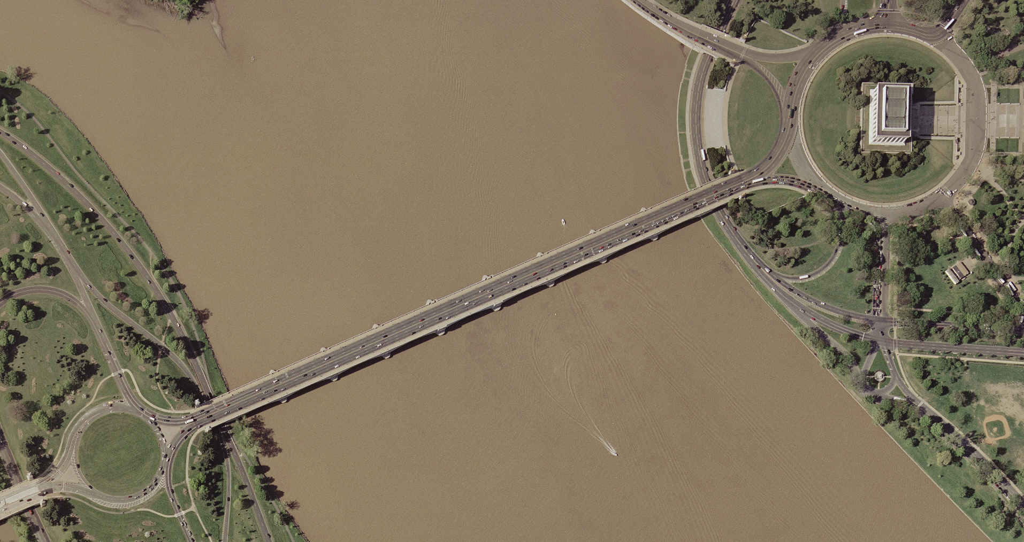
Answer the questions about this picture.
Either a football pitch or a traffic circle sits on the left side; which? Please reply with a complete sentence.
You can see a traffic circle on the left side.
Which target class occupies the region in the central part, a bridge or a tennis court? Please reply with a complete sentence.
What appears in the central part is a bridge.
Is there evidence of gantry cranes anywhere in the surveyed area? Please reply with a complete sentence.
No, there is no gantry crane in the image.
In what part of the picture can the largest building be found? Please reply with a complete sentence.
You can find the largest building in the top right area of the picture.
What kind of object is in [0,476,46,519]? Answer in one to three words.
bridge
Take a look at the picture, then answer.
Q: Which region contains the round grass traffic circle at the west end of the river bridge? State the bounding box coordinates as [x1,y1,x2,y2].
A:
[67,402,172,508]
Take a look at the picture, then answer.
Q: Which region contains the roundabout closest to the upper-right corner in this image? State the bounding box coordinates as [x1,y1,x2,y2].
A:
[723,0,987,216]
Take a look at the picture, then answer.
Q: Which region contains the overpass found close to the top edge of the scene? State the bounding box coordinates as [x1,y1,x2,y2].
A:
[668,18,731,58]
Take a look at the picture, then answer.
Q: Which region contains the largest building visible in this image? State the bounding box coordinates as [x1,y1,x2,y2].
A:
[860,81,955,154]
